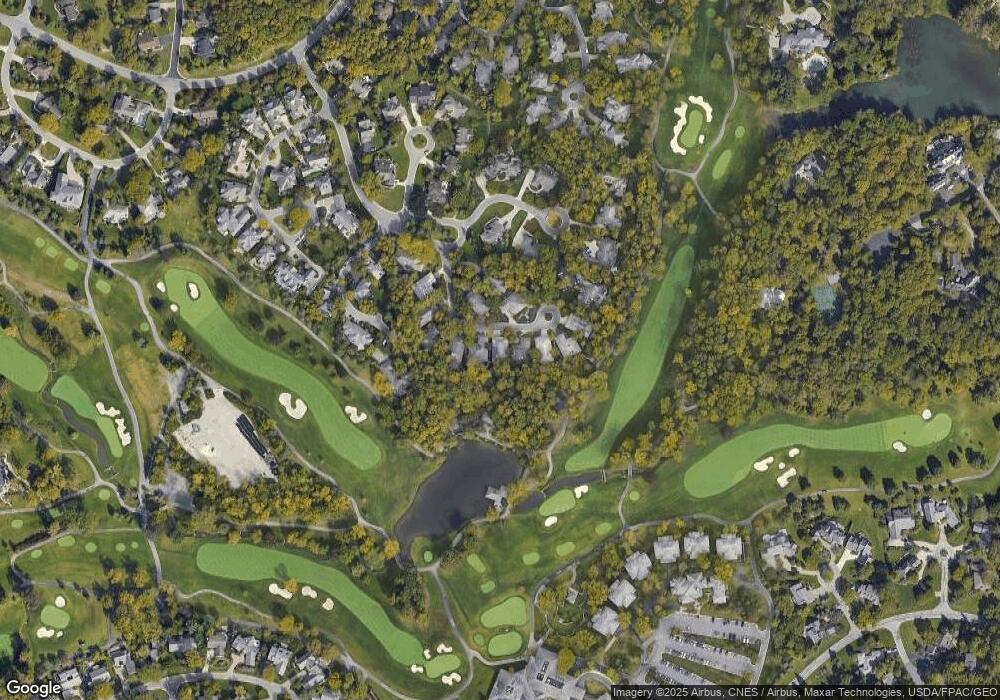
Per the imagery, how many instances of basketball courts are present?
zero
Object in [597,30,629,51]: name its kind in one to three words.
house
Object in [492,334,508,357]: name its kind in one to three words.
house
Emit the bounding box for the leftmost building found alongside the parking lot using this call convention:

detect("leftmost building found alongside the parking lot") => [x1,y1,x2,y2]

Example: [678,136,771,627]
[486,645,594,700]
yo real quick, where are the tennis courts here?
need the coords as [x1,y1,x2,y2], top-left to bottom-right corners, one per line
[812,285,837,323]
